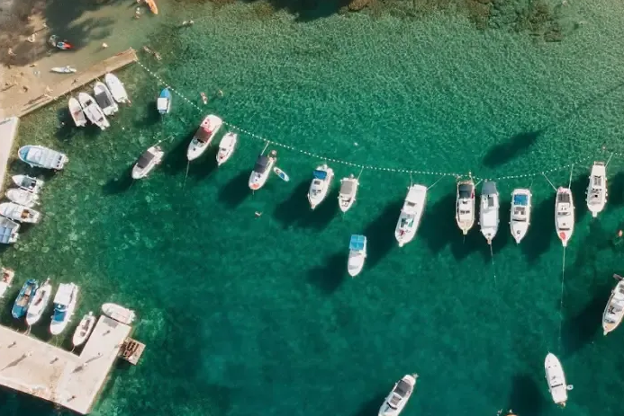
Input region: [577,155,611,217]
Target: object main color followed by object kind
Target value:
white boat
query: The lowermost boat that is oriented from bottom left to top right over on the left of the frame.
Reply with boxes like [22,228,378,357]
[72,312,97,352]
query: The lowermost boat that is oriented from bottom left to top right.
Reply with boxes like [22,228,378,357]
[379,370,418,416]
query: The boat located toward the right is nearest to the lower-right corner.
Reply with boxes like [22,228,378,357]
[544,351,569,408]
